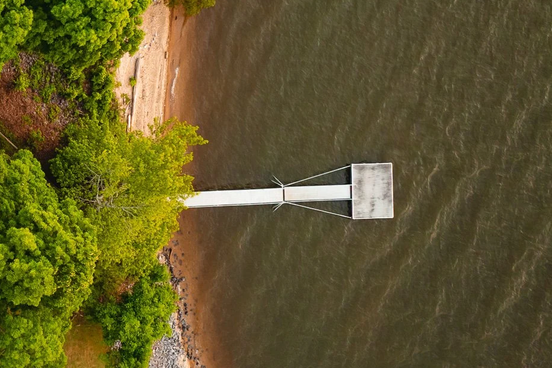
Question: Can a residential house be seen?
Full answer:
No, I can see no residential house in this picture.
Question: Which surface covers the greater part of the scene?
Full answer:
The scene is dominated by water.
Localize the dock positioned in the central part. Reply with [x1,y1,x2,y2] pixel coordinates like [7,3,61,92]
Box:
[184,161,394,220]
